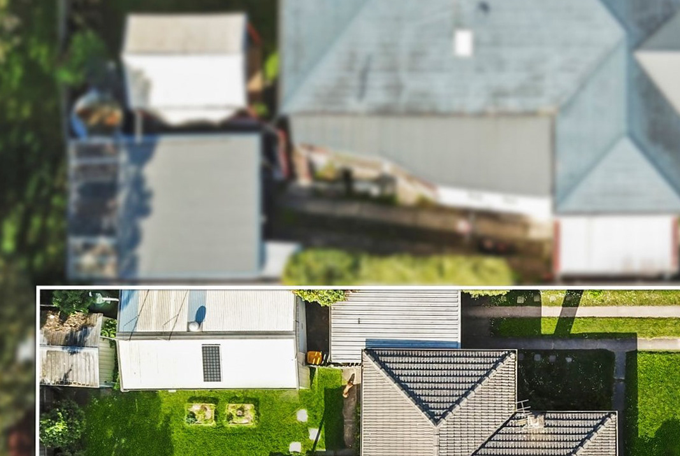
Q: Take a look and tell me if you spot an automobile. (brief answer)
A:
No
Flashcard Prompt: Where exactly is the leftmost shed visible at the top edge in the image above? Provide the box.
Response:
[121,14,256,127]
